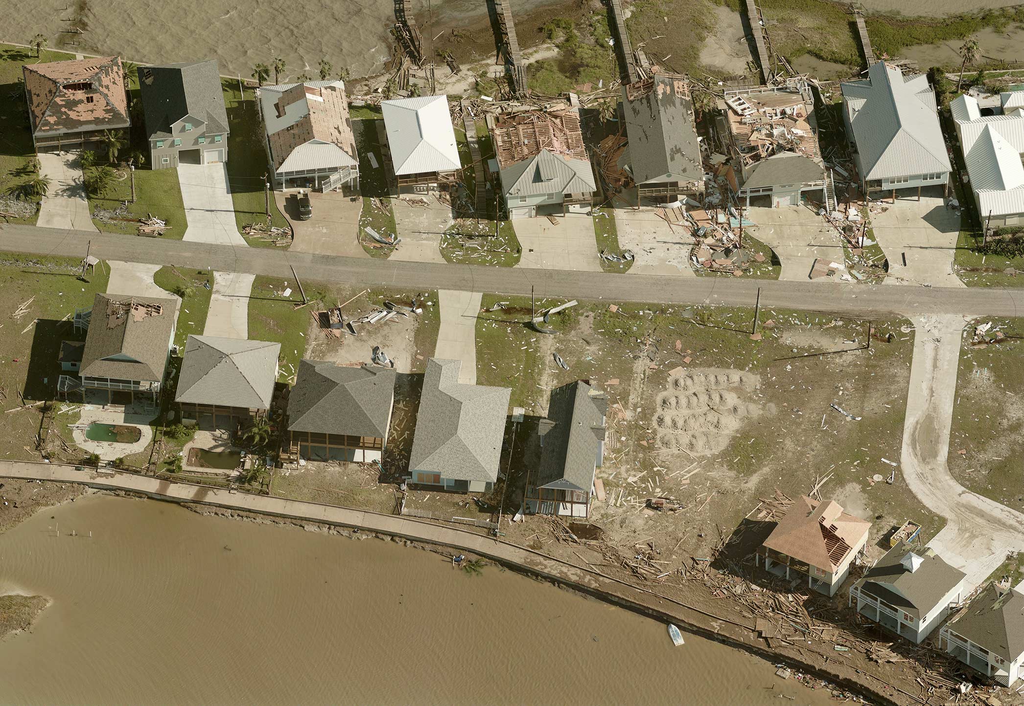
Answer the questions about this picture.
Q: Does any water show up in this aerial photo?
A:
Yes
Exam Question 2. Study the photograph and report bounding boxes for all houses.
[764,495,871,596]
[621,80,704,209]
[488,106,595,222]
[138,59,229,168]
[58,293,178,411]
[22,55,132,157]
[950,90,1024,228]
[277,357,397,468]
[381,95,462,199]
[725,82,839,211]
[854,540,965,643]
[840,62,953,204]
[405,358,512,497]
[260,80,358,196]
[525,375,609,520]
[174,335,282,443]
[946,581,1024,685]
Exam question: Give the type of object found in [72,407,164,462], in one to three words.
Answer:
swimming pool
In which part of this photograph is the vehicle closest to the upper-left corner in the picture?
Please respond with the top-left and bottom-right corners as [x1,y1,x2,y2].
[297,186,313,217]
